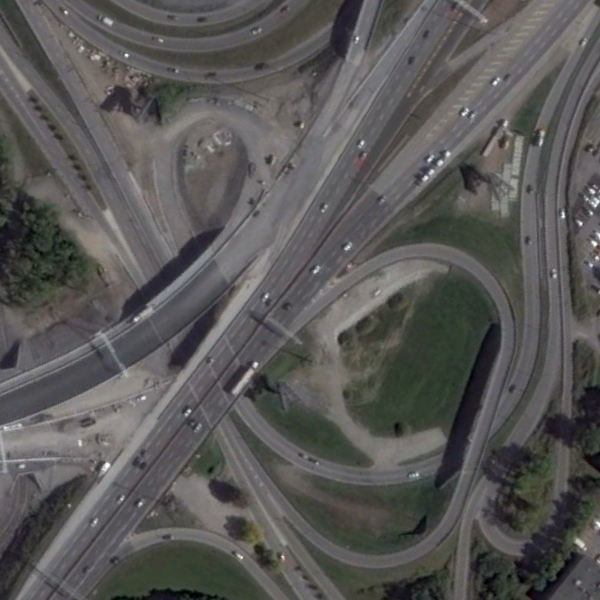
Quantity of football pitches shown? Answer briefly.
0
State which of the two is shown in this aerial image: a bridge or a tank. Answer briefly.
bridge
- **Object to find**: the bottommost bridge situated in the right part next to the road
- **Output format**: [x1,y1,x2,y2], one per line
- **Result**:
[449,319,516,526]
